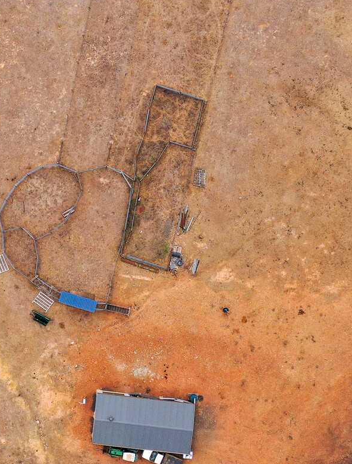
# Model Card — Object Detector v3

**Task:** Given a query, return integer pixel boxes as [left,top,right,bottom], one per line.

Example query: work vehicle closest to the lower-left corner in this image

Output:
[101,446,139,463]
